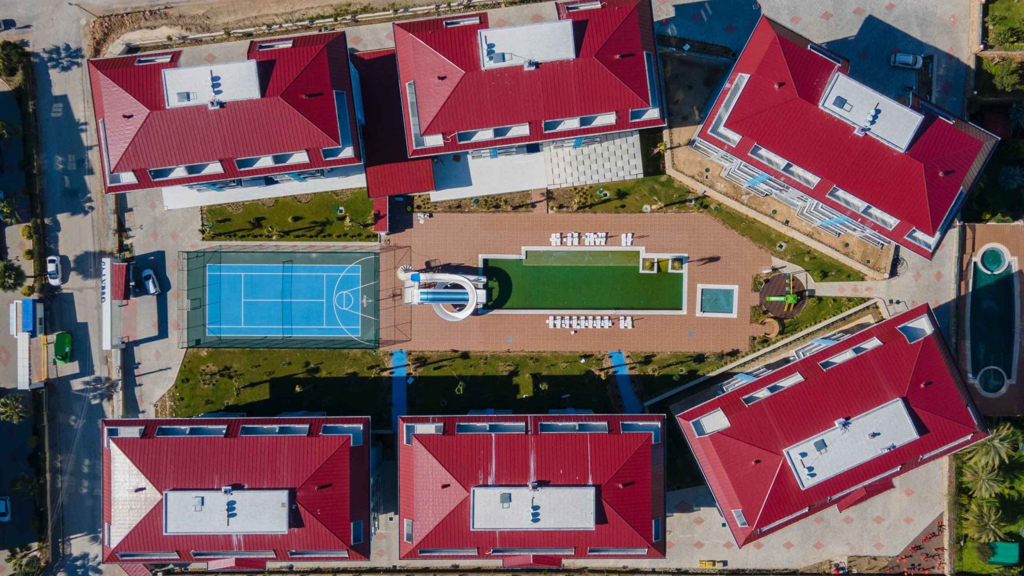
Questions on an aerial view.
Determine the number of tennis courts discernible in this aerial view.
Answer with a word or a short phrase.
1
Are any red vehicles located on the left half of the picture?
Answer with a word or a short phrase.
No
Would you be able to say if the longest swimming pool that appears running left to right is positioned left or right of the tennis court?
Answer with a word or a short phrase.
right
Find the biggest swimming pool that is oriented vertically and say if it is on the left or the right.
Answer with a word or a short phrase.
right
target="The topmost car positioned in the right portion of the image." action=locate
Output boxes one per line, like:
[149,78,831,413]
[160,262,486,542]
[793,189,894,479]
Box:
[890,54,923,69]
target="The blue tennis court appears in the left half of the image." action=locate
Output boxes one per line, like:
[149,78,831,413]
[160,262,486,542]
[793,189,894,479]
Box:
[188,252,379,348]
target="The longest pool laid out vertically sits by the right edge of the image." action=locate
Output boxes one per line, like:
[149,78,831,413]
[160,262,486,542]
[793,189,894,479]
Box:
[966,242,1021,399]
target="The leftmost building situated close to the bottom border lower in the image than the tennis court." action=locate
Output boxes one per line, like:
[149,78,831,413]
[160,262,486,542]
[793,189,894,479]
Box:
[100,410,382,570]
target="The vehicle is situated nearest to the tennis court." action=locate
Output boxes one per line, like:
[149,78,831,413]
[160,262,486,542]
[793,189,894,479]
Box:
[142,267,161,297]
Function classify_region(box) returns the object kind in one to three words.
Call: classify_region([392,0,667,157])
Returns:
building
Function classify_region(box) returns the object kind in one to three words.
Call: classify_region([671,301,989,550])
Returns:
building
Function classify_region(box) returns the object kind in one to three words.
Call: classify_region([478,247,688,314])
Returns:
swimming pool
